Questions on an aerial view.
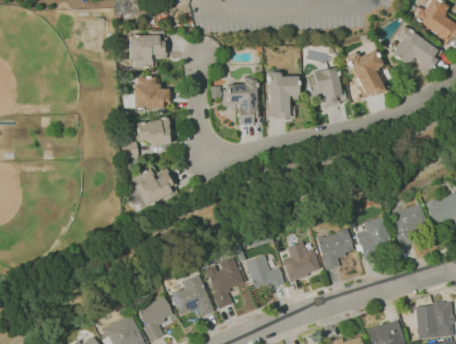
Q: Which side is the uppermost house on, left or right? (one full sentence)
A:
It is on the right.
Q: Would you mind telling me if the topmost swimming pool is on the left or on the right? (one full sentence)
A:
The topmost swimming pool is on the right side of the image.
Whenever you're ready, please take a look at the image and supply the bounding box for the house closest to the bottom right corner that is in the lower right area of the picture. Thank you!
[417,303,456,340]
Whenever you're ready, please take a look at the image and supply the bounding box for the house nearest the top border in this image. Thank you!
[416,0,456,46]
